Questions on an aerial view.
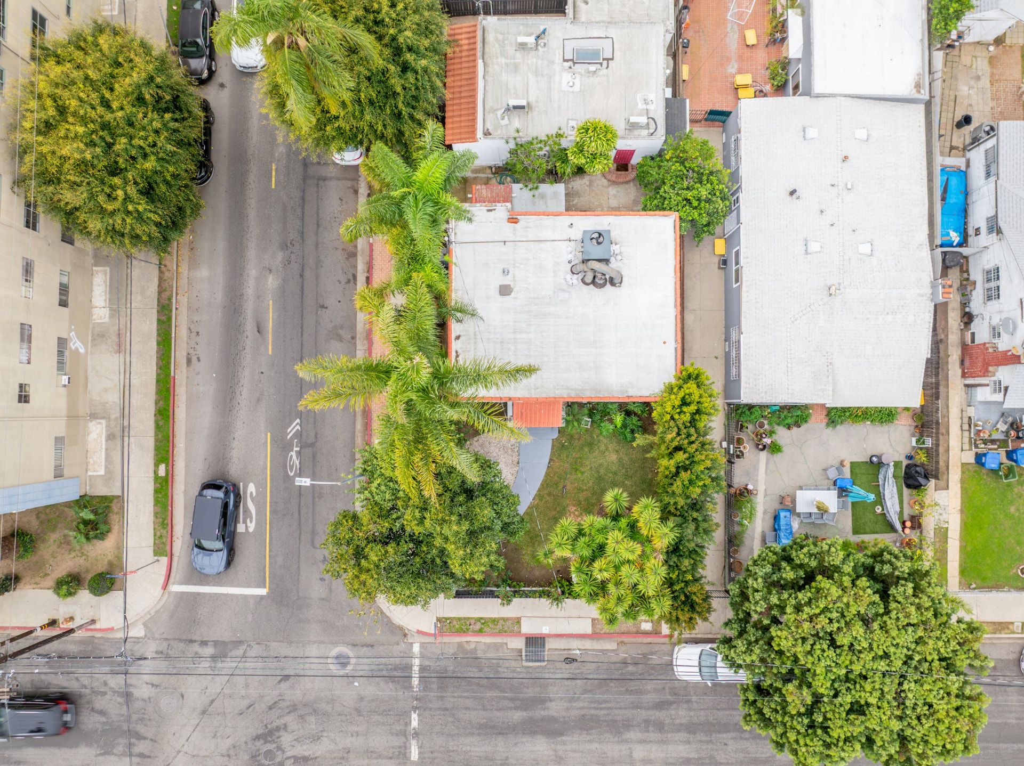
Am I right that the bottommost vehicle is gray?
Yes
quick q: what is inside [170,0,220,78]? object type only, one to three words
car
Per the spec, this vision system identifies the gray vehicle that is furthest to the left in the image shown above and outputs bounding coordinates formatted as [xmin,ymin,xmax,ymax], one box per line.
[0,694,71,744]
